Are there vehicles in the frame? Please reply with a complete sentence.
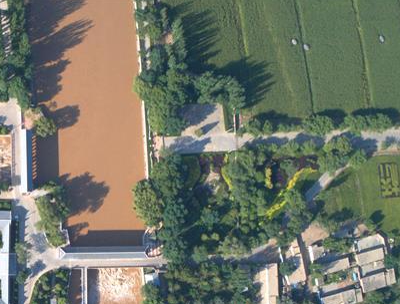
No, there isn't any vehicle down there.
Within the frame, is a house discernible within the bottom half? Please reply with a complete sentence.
Yes, I can see a house within the bottom half.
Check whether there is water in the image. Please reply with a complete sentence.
Yes, water can be seen from above here.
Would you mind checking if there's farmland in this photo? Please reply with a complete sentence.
Yes, farmland shows up in the scene.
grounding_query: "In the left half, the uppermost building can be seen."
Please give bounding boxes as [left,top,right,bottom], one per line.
[20,128,33,191]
